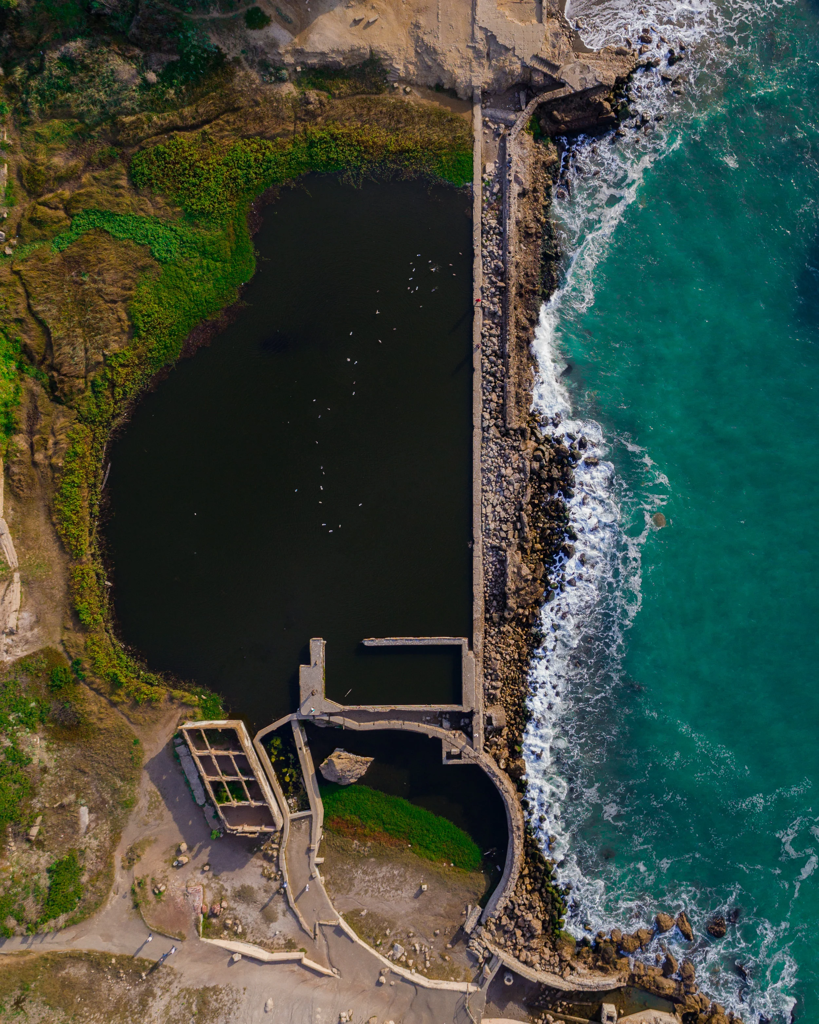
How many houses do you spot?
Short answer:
1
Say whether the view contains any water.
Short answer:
Yes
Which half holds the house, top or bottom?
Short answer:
bottom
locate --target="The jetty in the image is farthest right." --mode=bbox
[462,636,475,711]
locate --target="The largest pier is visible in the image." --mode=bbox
[300,637,343,715]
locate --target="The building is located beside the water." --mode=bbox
[179,715,283,836]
